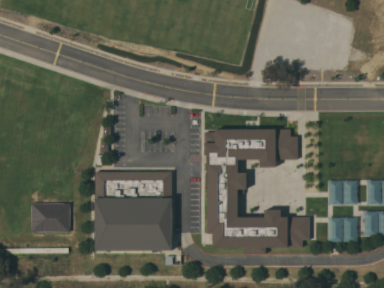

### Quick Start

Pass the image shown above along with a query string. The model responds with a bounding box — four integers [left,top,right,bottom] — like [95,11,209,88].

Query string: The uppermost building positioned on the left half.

[94,170,172,198]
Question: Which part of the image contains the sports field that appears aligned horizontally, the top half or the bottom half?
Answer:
top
